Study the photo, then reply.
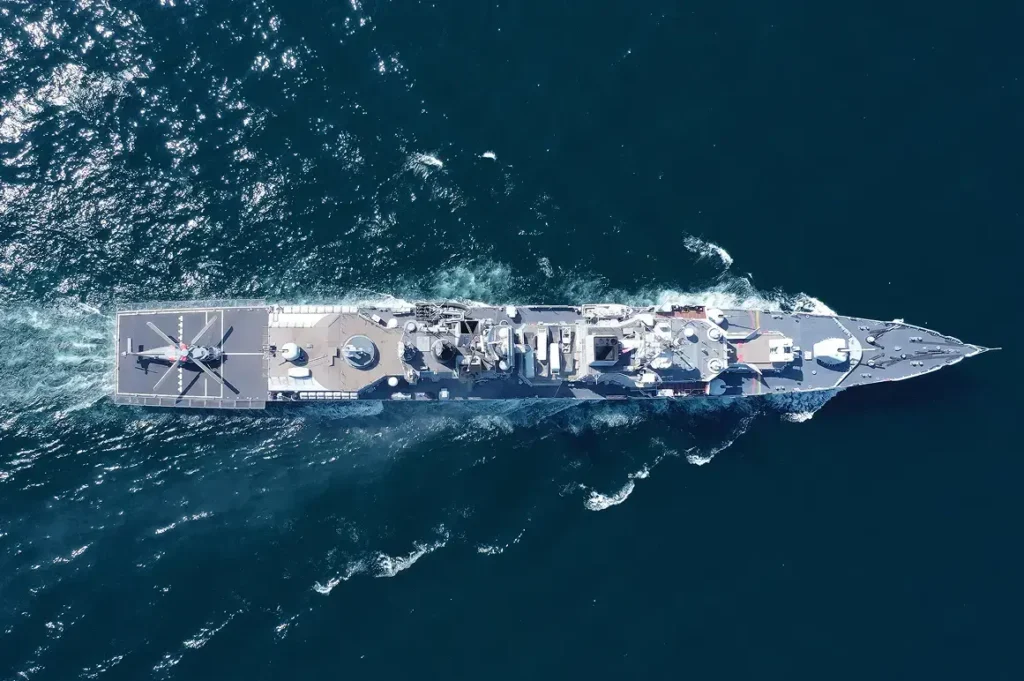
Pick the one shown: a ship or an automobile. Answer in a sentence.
The image shows a ship.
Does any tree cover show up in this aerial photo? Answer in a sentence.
No, there's no tree cover in this view.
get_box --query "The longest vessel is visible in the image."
[115,299,1002,410]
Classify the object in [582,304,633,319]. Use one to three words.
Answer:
boat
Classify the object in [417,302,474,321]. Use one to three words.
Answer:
boat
